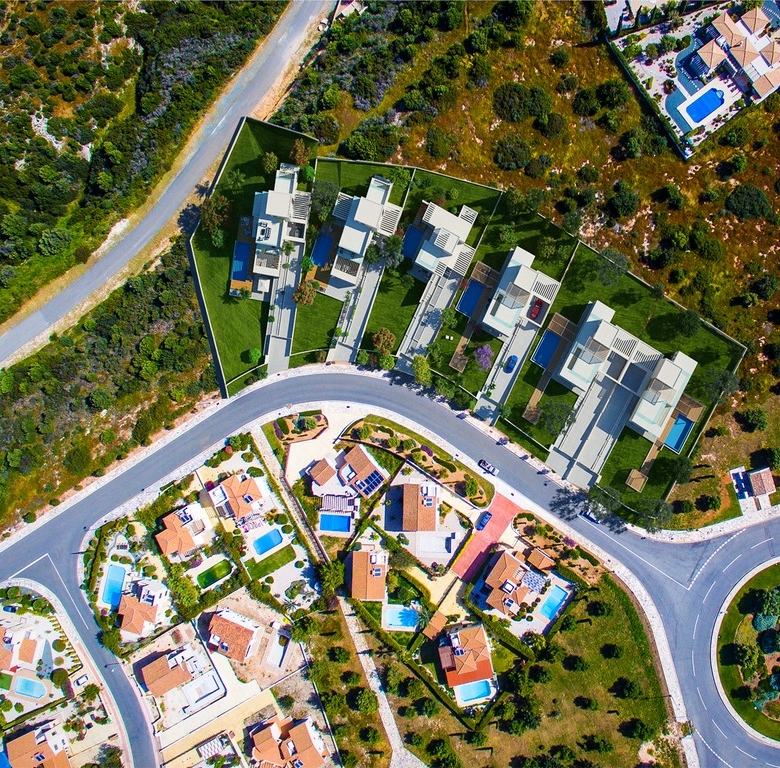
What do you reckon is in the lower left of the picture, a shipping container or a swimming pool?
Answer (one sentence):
There is a swimming pool in the lower left of the picture.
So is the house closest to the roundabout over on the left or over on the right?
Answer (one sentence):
The house closest to the roundabout is on the right side of the image.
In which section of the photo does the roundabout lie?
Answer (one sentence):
The roundabout is located in the bottom right region of the scene.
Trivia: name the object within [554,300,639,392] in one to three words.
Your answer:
house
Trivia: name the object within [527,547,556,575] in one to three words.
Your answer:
building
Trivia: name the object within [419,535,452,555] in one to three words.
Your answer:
swimming pool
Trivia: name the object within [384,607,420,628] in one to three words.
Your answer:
swimming pool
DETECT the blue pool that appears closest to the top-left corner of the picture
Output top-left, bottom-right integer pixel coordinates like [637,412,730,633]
[230,240,251,282]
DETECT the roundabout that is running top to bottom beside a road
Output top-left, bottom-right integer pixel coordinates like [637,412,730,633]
[711,557,780,746]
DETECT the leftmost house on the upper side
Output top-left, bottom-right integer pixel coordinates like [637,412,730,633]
[252,162,313,293]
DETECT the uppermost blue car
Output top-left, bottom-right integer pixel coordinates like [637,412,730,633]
[503,354,518,374]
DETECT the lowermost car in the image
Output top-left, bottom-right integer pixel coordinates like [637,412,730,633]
[71,673,91,687]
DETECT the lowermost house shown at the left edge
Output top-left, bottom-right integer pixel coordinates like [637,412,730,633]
[7,714,77,768]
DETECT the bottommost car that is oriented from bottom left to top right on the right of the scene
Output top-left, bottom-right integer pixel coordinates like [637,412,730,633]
[475,509,493,531]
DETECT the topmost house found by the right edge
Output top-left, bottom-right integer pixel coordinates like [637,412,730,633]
[685,7,780,101]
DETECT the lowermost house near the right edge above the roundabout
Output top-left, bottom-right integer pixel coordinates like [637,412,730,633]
[727,464,778,496]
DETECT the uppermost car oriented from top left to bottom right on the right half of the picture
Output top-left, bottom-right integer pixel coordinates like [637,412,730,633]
[477,459,500,477]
